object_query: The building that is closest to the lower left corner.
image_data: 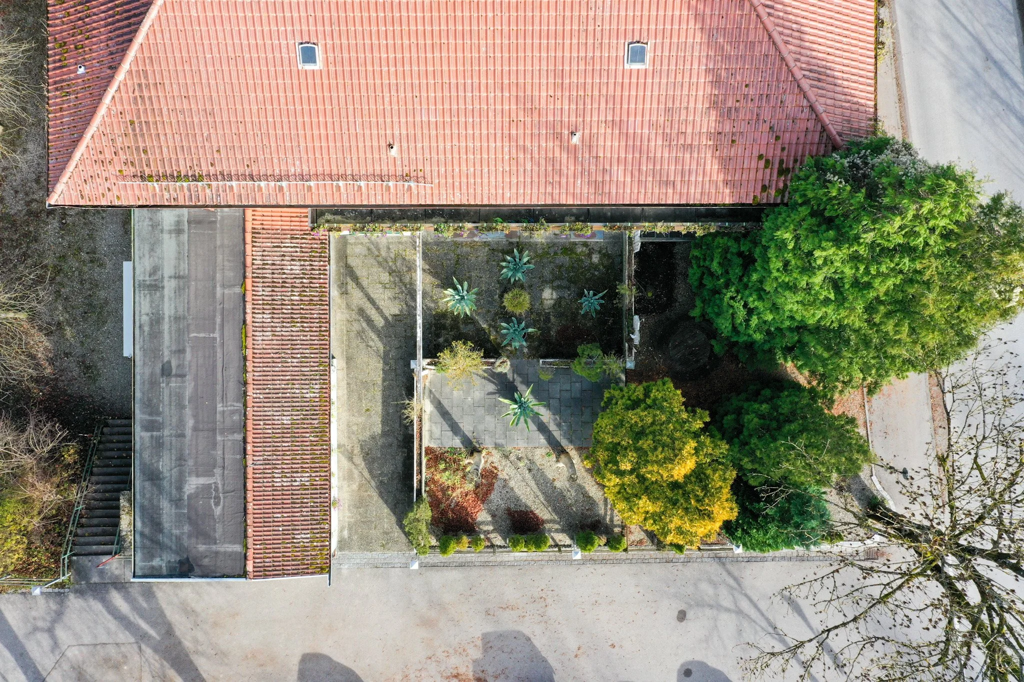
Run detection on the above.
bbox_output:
[130,209,341,585]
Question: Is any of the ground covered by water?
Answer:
No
